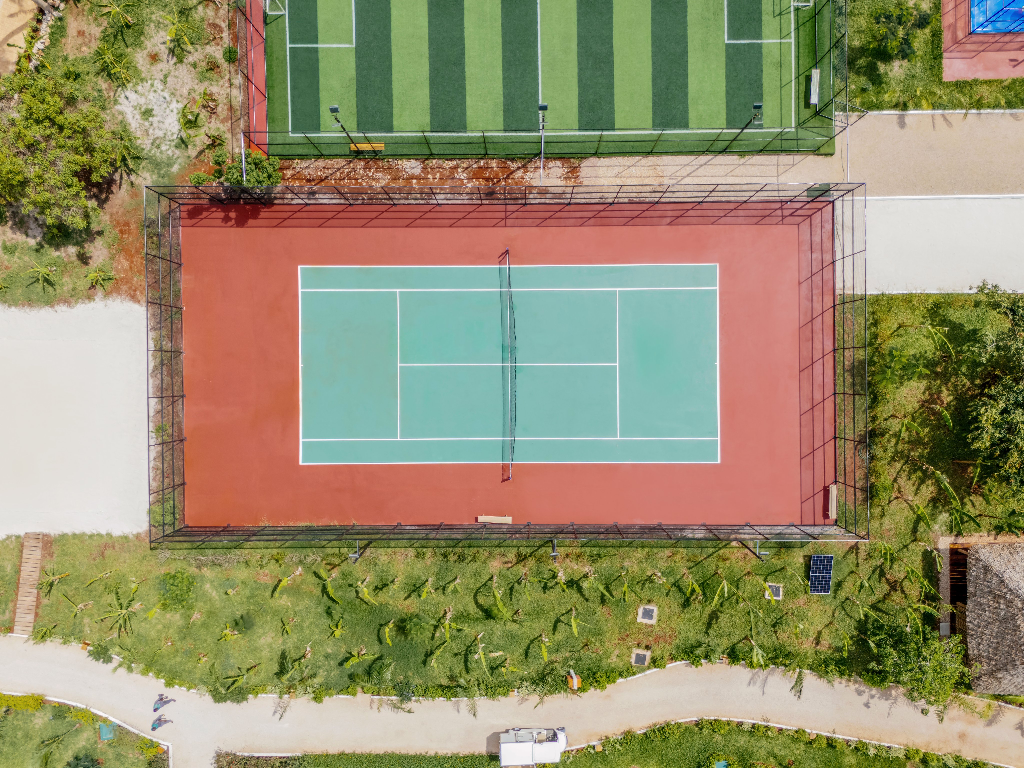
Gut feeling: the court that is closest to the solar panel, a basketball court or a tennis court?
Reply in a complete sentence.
Looking closely, the court that is closest to the solar panel is a tennis court.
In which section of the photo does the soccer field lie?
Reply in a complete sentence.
You can find the soccer field in the top area of the picture.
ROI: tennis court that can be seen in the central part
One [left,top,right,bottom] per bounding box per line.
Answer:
[180,199,839,528]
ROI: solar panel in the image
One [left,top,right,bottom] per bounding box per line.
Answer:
[810,555,834,595]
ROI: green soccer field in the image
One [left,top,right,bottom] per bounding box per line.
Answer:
[266,0,835,159]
